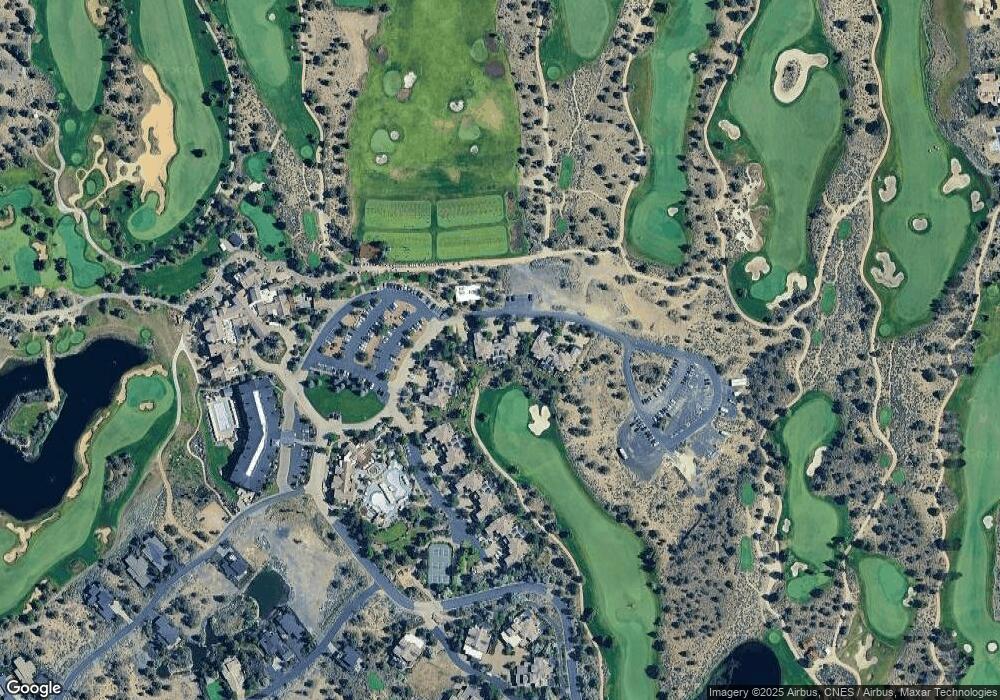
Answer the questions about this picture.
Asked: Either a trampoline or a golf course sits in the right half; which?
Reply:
golf course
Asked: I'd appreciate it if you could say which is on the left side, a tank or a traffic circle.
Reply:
traffic circle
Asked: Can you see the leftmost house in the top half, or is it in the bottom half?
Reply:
bottom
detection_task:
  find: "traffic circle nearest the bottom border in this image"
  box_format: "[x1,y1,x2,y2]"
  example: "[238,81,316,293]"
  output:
[412,599,450,630]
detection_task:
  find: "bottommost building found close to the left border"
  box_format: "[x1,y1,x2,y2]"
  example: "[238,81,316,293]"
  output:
[11,657,39,687]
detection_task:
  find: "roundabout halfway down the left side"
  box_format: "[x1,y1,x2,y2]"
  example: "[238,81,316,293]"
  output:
[246,324,295,373]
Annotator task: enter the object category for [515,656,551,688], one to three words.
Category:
house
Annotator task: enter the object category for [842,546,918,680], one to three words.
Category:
golf course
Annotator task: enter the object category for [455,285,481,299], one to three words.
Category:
tent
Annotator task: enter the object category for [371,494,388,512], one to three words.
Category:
swimming pool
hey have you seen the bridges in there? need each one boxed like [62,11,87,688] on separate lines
[41,329,62,407]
